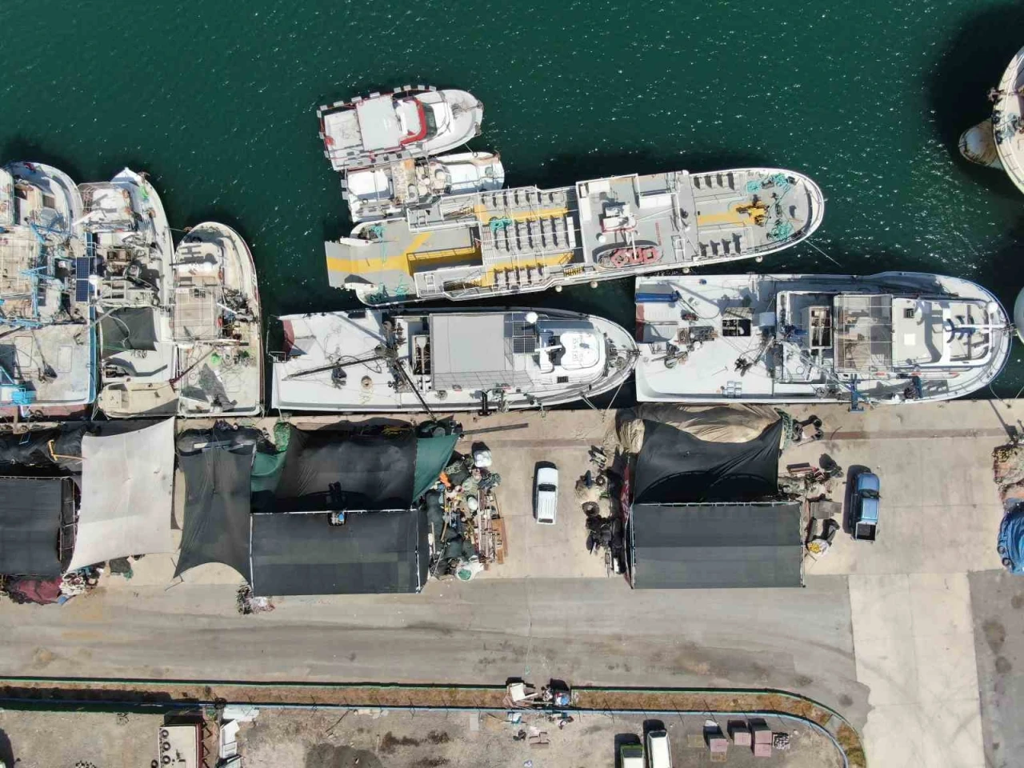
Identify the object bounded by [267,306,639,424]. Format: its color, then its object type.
white boat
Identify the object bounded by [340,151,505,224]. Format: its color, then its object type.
white boat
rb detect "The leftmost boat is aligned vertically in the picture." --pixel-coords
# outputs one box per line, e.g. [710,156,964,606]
[0,160,115,420]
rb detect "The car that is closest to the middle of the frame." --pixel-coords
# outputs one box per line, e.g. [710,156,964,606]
[532,460,561,524]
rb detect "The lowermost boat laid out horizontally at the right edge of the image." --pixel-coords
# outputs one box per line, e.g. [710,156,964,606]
[632,272,1014,411]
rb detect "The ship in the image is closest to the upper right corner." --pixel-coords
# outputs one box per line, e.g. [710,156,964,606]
[958,47,1024,196]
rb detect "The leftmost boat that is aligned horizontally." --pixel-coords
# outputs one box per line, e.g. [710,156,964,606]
[99,380,179,418]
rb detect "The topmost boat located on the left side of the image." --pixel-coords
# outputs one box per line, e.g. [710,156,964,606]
[317,85,484,175]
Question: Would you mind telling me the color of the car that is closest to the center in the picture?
white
